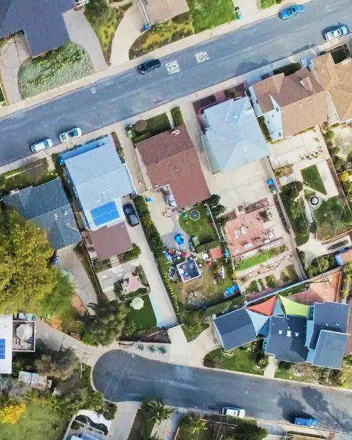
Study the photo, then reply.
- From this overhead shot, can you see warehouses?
No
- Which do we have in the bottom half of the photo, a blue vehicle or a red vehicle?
blue vehicle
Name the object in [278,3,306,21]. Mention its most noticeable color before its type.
blue car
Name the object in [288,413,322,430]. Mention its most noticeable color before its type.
blue car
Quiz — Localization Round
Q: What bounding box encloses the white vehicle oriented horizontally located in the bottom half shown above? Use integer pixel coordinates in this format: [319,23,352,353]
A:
[219,406,247,420]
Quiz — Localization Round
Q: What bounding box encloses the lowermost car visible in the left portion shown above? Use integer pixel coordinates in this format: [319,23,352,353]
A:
[122,201,141,228]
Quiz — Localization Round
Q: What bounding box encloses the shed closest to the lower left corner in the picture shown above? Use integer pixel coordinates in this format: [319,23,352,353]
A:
[19,371,46,389]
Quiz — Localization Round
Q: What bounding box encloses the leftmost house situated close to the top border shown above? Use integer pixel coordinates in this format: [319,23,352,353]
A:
[0,0,76,61]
